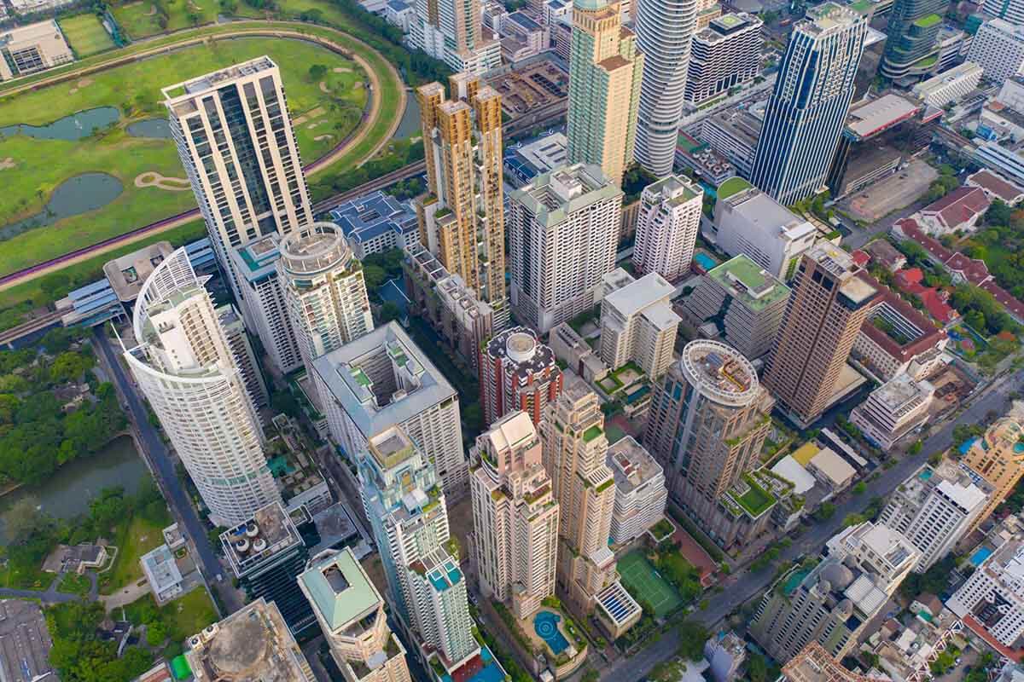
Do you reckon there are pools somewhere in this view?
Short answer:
Yes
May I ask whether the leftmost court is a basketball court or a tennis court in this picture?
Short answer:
tennis court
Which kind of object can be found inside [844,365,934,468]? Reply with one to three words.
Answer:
building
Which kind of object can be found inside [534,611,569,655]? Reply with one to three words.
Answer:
swimming pool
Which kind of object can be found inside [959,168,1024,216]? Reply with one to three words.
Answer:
house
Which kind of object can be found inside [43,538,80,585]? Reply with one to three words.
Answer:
house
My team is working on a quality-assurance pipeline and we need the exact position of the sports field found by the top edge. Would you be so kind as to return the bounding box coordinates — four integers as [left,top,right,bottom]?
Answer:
[59,15,114,57]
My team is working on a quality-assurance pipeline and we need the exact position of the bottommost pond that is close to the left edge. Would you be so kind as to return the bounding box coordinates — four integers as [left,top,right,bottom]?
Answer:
[0,172,124,241]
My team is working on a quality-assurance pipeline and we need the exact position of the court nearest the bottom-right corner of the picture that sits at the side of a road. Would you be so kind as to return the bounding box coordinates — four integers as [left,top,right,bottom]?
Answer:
[618,549,681,614]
